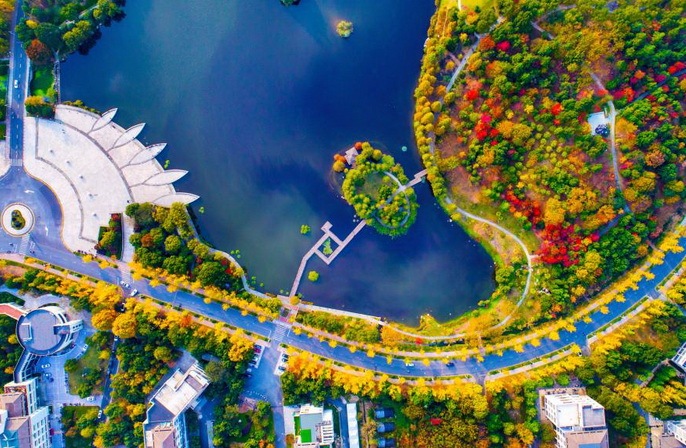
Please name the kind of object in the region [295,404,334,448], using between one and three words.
building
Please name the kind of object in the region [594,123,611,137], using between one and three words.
gazebo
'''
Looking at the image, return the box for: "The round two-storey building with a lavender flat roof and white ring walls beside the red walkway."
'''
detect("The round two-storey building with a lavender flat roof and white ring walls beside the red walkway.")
[16,299,96,355]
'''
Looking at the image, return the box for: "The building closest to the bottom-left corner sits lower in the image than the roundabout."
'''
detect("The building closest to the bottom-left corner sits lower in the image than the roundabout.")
[0,348,53,448]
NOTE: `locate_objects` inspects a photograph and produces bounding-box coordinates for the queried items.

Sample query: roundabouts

[1,203,34,236]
